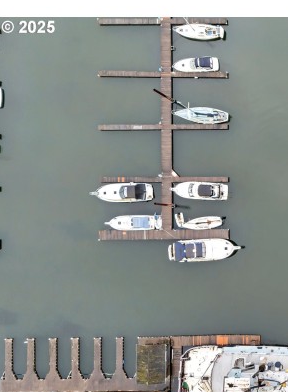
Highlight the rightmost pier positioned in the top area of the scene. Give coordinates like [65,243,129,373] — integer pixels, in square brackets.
[98,0,230,241]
